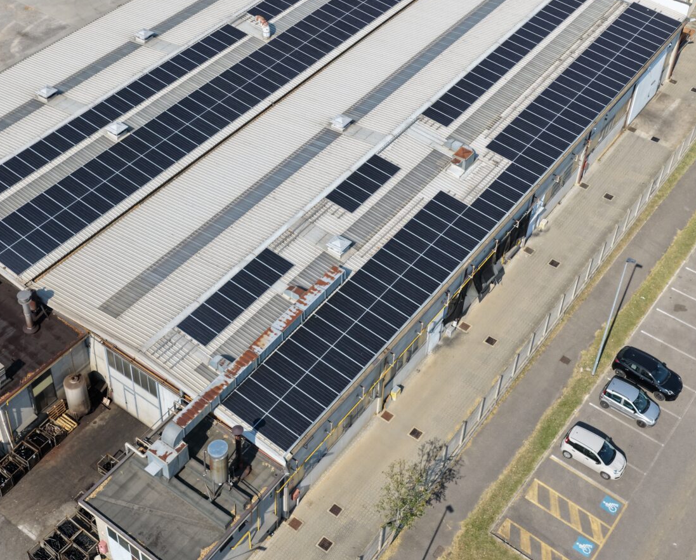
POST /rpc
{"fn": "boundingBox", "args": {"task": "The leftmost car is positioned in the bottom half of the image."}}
[557,421,629,479]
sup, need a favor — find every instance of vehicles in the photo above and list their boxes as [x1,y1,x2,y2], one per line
[596,371,663,427]
[612,340,688,399]
[557,421,629,479]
